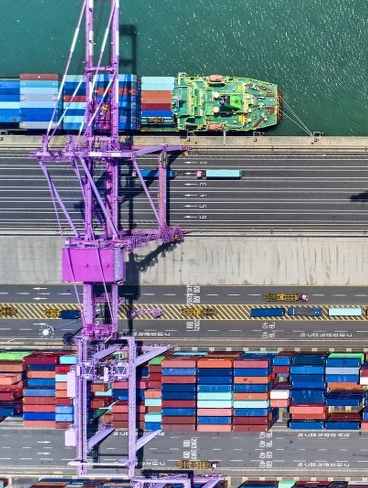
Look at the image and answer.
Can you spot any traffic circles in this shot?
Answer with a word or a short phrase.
No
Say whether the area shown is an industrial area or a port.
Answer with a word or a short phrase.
port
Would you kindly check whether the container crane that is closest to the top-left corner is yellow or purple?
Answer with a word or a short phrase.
purple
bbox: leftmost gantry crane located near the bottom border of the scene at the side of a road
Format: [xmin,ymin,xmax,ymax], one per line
[66,336,177,477]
